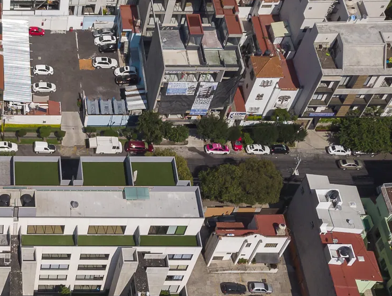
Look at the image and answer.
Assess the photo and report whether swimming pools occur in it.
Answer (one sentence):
No, there isn't any swimming pool down there.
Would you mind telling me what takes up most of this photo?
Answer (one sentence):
For the most part, this view shows buildings.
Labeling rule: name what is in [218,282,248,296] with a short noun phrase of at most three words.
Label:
vehicle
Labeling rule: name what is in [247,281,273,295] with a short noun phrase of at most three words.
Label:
vehicle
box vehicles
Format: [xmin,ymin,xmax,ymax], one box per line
[325,144,352,156]
[232,139,245,154]
[353,145,376,157]
[247,281,273,295]
[93,35,117,46]
[33,140,56,153]
[127,140,151,154]
[245,143,270,155]
[115,74,139,85]
[218,282,248,296]
[114,65,137,77]
[88,135,124,154]
[32,63,55,75]
[96,44,119,54]
[92,27,115,37]
[269,143,291,155]
[0,141,18,153]
[29,26,47,37]
[93,56,116,69]
[204,143,230,155]
[337,158,364,169]
[32,82,56,92]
